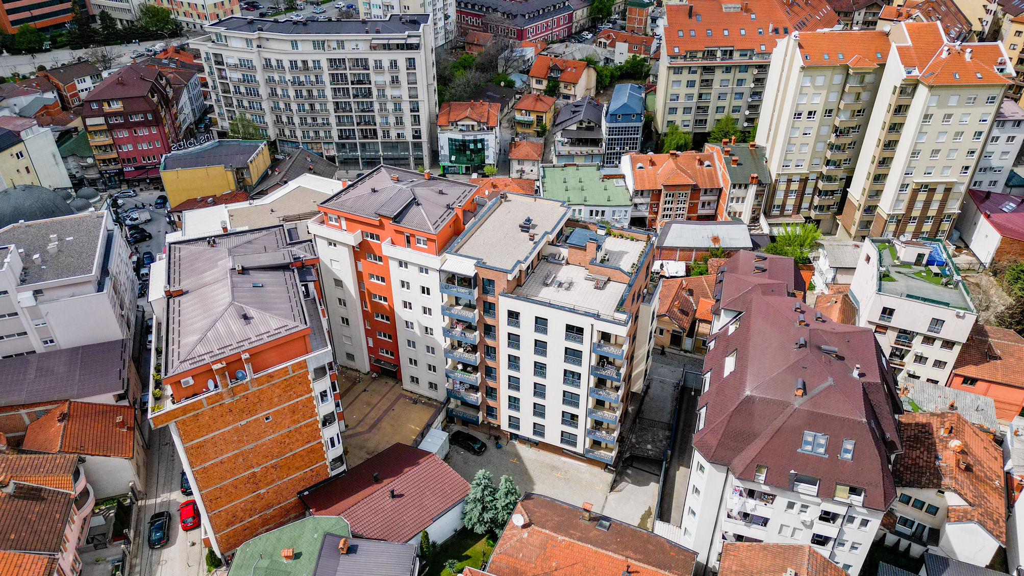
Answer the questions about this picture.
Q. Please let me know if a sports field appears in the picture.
No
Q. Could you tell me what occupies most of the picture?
buildings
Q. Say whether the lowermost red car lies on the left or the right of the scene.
left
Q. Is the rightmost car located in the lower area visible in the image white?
No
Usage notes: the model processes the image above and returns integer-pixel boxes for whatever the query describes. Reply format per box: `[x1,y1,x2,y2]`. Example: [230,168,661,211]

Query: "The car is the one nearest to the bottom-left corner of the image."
[141,509,173,554]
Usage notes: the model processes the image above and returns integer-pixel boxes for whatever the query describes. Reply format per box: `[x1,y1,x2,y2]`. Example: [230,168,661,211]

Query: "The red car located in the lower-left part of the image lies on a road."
[175,498,200,536]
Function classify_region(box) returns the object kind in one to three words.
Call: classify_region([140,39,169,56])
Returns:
vehicle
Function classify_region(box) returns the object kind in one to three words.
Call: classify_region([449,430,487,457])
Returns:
car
